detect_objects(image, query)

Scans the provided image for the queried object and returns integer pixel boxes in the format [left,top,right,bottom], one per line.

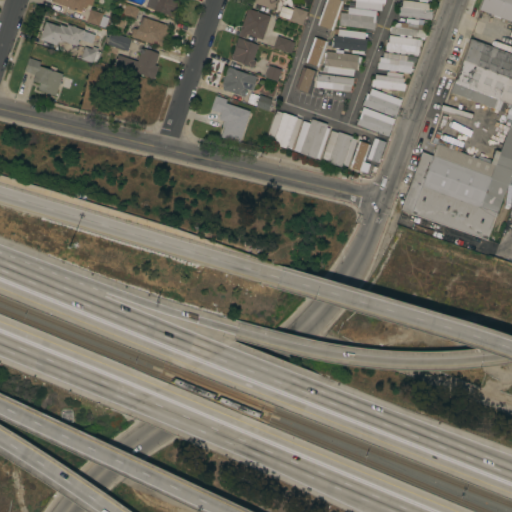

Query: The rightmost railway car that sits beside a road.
[218,397,264,419]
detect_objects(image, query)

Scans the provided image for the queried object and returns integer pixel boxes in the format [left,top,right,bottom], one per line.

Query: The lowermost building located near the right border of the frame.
[403,128,512,241]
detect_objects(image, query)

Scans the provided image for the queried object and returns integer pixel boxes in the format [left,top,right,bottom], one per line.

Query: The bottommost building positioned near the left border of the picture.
[24,58,64,97]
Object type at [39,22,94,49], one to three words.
house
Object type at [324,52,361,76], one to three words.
house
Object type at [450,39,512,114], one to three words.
building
